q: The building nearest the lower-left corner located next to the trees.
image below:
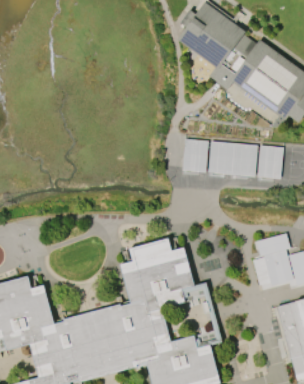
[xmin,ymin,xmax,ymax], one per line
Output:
[0,238,221,384]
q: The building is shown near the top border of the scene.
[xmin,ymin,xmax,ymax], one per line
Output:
[182,0,304,124]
